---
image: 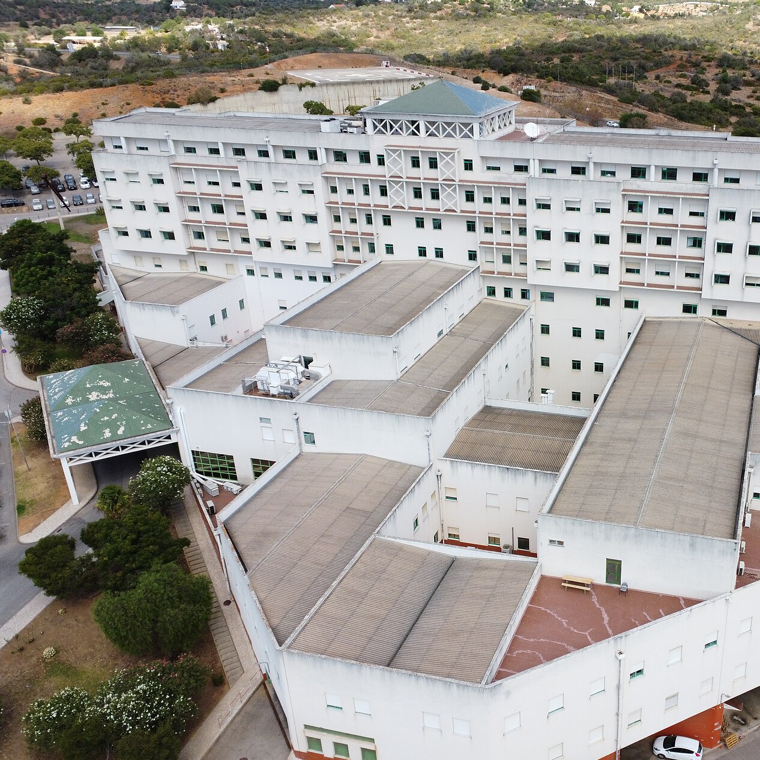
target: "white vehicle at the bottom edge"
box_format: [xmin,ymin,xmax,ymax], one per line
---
[651,732,705,760]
